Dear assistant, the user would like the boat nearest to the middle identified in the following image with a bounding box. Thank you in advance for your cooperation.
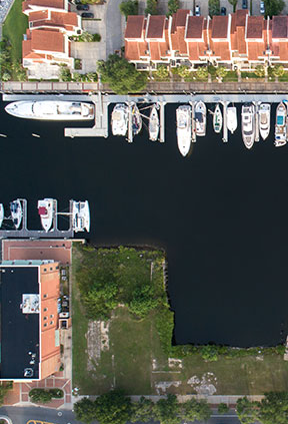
[62,200,91,233]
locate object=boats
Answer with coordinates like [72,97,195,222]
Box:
[128,105,144,136]
[38,201,55,233]
[259,105,272,142]
[241,104,256,149]
[0,204,7,228]
[4,100,95,124]
[275,101,288,142]
[112,103,130,137]
[62,200,91,233]
[226,107,239,133]
[213,103,224,134]
[0,200,24,230]
[142,103,161,143]
[176,106,194,157]
[273,141,287,147]
[194,101,208,137]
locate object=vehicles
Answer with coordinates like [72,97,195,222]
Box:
[220,5,226,16]
[81,12,94,18]
[76,3,89,10]
[241,0,248,10]
[195,4,200,16]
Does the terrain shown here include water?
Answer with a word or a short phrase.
Yes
